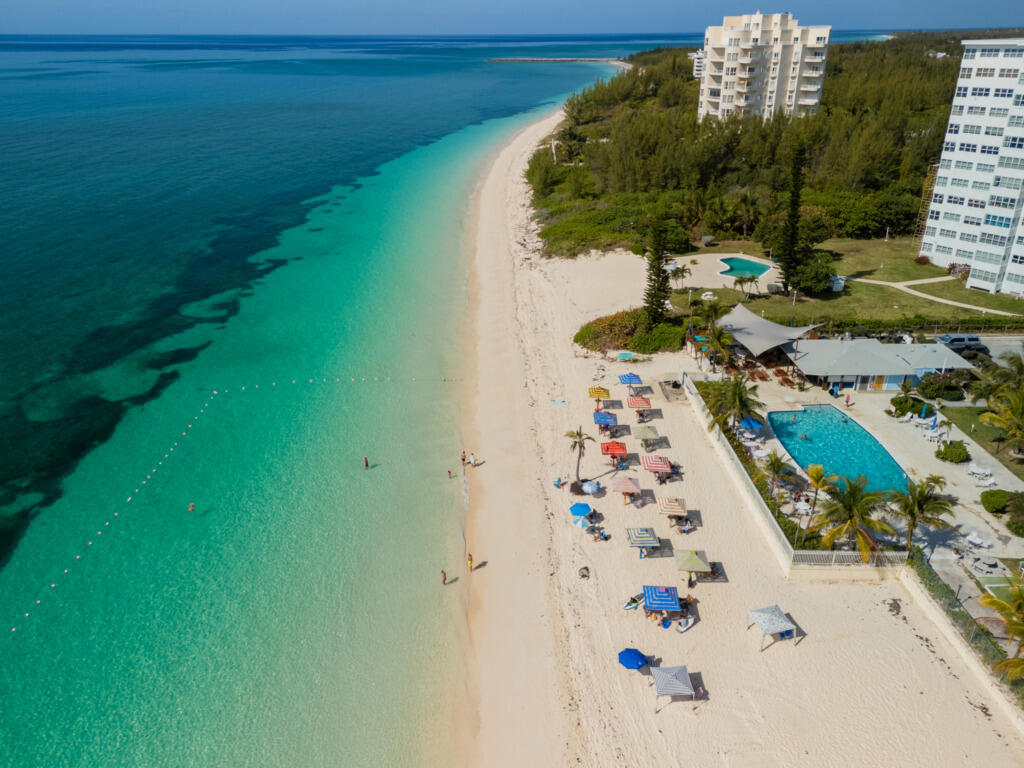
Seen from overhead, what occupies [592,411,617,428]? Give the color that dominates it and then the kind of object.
blue umbrella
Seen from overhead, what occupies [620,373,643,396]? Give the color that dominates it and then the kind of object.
blue umbrella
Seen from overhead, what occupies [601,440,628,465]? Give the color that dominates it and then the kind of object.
red umbrella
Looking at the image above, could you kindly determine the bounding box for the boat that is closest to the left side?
[624,592,643,613]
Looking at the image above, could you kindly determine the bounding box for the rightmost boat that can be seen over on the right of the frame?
[674,608,698,632]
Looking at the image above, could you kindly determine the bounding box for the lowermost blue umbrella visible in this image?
[618,646,649,687]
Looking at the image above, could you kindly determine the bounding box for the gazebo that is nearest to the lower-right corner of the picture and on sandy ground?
[745,603,802,653]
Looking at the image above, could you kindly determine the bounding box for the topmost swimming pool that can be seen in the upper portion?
[717,255,773,277]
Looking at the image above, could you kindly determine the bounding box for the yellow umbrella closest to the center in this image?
[587,386,609,410]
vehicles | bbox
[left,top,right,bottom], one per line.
[935,330,983,348]
[951,339,995,355]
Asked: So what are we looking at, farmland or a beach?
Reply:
beach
